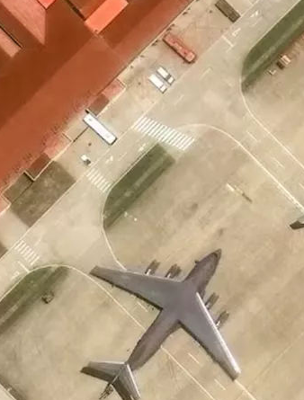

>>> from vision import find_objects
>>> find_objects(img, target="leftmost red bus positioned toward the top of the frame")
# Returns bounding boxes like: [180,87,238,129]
[162,33,196,65]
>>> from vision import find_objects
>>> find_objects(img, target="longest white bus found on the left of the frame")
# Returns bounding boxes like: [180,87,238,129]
[82,113,117,146]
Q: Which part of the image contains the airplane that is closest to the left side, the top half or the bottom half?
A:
bottom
